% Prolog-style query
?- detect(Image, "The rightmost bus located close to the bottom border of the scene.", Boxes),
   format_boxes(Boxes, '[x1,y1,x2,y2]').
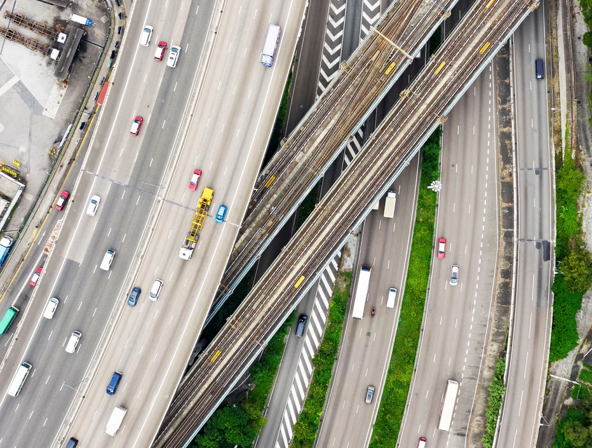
[438,378,459,433]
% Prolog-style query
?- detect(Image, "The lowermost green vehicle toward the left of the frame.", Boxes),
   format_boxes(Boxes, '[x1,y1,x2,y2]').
[0,305,20,334]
